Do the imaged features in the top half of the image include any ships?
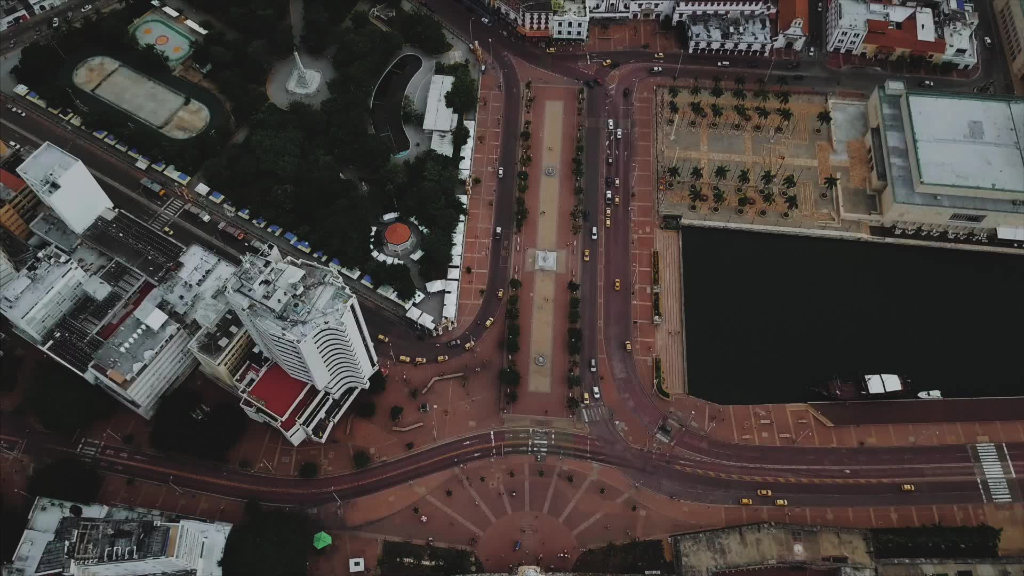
No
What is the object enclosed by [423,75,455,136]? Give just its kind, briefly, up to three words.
building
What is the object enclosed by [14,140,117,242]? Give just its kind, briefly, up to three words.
building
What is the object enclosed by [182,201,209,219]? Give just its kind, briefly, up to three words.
vehicle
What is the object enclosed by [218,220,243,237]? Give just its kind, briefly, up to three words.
vehicle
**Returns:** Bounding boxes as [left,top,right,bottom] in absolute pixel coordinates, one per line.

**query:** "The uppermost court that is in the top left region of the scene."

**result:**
[127,8,199,68]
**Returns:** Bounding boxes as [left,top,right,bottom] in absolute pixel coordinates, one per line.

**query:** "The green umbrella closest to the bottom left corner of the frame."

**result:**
[315,530,331,550]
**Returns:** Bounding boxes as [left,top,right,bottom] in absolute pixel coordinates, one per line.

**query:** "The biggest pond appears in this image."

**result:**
[370,53,423,157]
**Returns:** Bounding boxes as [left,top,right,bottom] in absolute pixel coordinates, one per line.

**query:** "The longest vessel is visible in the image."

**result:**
[817,373,915,400]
